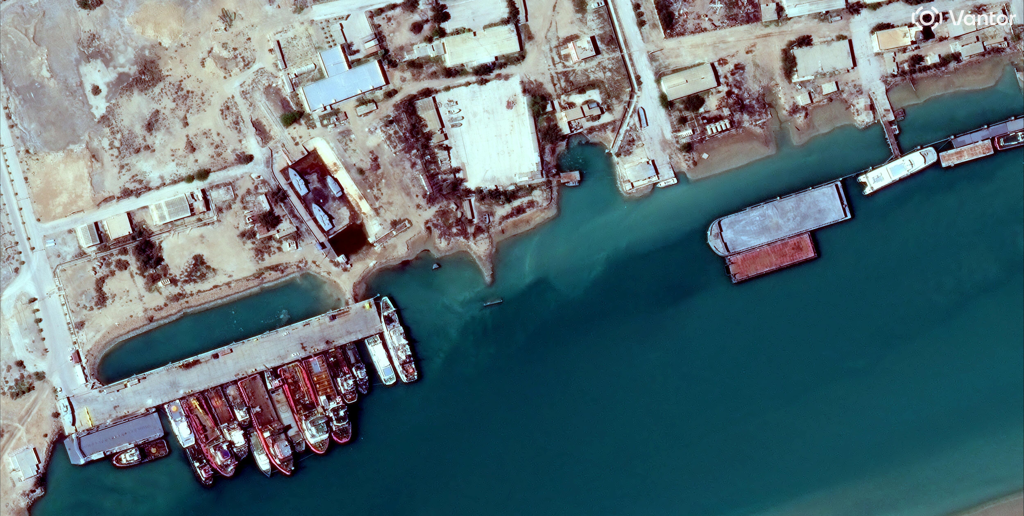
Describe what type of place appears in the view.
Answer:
port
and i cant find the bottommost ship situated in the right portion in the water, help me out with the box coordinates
[724,232,817,283]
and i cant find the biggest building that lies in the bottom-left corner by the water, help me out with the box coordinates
[8,448,39,479]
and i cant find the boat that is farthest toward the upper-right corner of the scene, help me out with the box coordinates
[994,129,1024,150]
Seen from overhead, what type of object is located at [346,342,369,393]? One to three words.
ship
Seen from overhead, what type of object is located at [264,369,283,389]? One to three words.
boat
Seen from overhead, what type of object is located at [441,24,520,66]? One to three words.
building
